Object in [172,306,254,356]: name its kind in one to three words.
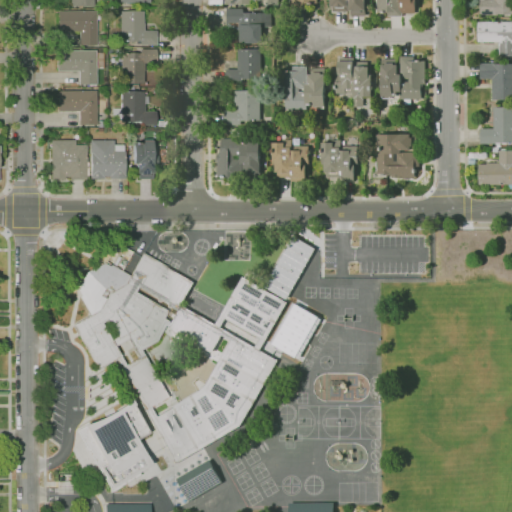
building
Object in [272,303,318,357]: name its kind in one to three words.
building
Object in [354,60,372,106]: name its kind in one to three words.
house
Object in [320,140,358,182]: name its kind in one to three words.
house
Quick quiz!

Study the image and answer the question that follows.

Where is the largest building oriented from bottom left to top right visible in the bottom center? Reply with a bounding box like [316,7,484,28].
[157,344,276,462]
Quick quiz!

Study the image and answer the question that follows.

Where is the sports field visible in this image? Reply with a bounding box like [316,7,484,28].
[380,282,512,512]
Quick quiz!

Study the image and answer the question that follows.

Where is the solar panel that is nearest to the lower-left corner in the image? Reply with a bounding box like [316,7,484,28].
[96,417,134,452]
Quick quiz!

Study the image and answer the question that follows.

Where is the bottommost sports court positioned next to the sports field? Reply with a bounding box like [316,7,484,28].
[338,482,380,503]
